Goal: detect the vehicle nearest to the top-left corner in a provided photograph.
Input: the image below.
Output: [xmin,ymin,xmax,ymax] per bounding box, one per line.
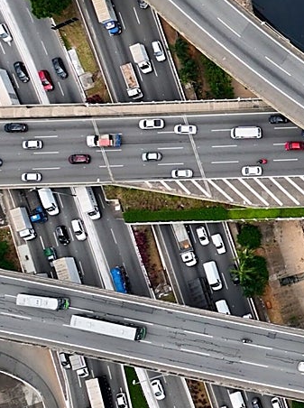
[0,23,13,44]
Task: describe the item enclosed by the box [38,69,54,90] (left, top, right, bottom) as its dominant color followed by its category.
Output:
red car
